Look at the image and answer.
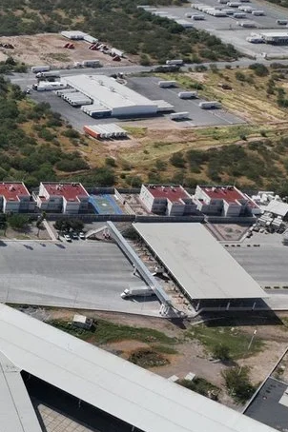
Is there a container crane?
No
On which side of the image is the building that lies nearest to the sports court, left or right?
left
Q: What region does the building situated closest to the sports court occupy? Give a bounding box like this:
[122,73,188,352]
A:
[37,181,97,215]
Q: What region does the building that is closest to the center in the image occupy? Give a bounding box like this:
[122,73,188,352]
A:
[136,184,200,217]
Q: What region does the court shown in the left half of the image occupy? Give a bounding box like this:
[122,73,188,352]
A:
[90,191,124,215]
